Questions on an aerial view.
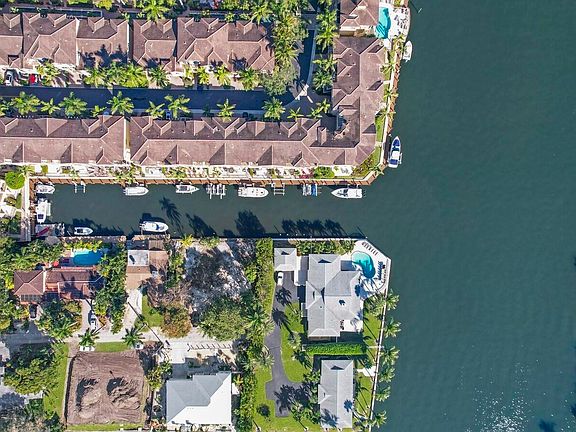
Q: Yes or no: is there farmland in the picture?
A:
No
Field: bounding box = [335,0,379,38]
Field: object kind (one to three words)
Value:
house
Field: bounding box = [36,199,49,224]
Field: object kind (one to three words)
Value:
boat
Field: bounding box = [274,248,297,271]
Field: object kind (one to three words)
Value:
building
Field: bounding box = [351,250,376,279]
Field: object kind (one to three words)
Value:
swimming pool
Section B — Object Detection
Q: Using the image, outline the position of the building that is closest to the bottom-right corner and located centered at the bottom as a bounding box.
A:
[318,358,354,429]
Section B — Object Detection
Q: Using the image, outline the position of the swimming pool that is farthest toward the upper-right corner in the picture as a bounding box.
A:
[375,4,393,40]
